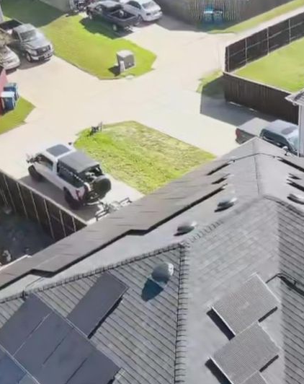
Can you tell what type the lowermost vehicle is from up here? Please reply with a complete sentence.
The lowermost vehicle in the image is a truck.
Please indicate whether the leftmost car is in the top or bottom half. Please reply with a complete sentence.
You can find the leftmost car in the top half.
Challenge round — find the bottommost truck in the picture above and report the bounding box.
[23,142,120,211]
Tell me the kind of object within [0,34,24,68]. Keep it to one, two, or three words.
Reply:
car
